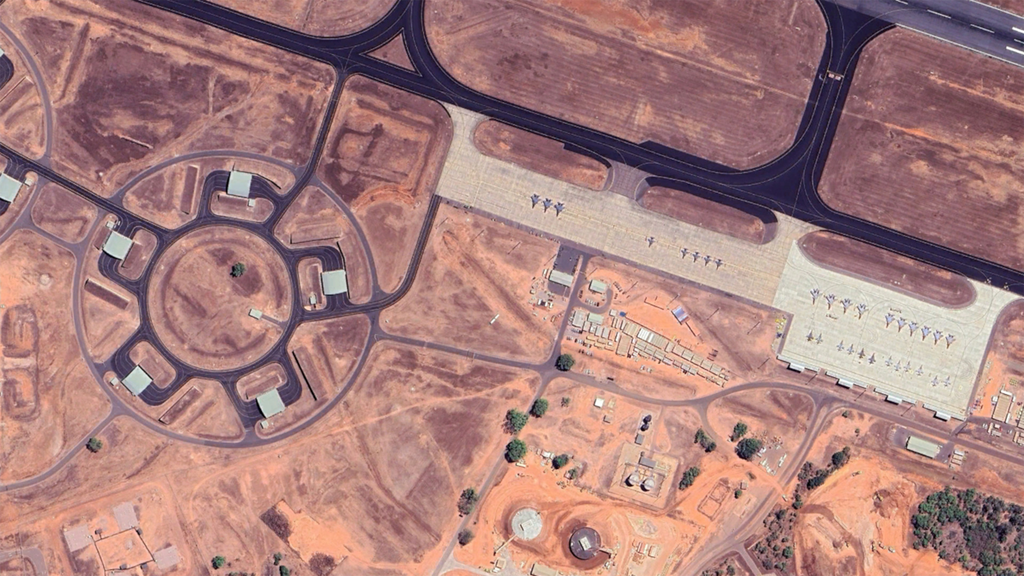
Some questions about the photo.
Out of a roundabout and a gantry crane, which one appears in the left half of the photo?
roundabout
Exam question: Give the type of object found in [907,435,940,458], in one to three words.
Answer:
shed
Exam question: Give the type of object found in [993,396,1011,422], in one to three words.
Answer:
building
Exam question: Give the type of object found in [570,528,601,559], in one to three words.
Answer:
storage tank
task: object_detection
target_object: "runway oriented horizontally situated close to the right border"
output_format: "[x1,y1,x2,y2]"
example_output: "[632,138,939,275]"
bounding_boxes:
[843,0,1024,68]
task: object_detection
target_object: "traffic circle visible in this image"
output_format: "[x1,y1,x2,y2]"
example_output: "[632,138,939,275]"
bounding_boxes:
[98,170,384,436]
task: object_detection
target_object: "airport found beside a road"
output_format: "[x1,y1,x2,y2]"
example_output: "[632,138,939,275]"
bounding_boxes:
[0,0,1024,418]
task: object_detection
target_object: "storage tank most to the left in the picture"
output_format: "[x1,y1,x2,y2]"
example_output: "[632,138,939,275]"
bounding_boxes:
[512,508,543,539]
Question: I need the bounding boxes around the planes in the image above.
[903,364,911,373]
[921,326,931,340]
[933,330,943,344]
[681,248,689,258]
[931,377,939,388]
[945,334,955,349]
[915,368,923,377]
[543,197,553,212]
[885,357,893,368]
[555,201,565,216]
[909,321,918,337]
[825,294,836,310]
[884,313,894,328]
[647,237,655,248]
[715,259,723,270]
[943,378,951,388]
[693,252,700,263]
[897,317,907,331]
[809,289,821,306]
[868,355,876,365]
[837,340,844,352]
[841,299,852,315]
[894,361,901,372]
[531,193,541,207]
[856,304,867,320]
[806,331,813,341]
[815,335,823,345]
[857,350,865,360]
